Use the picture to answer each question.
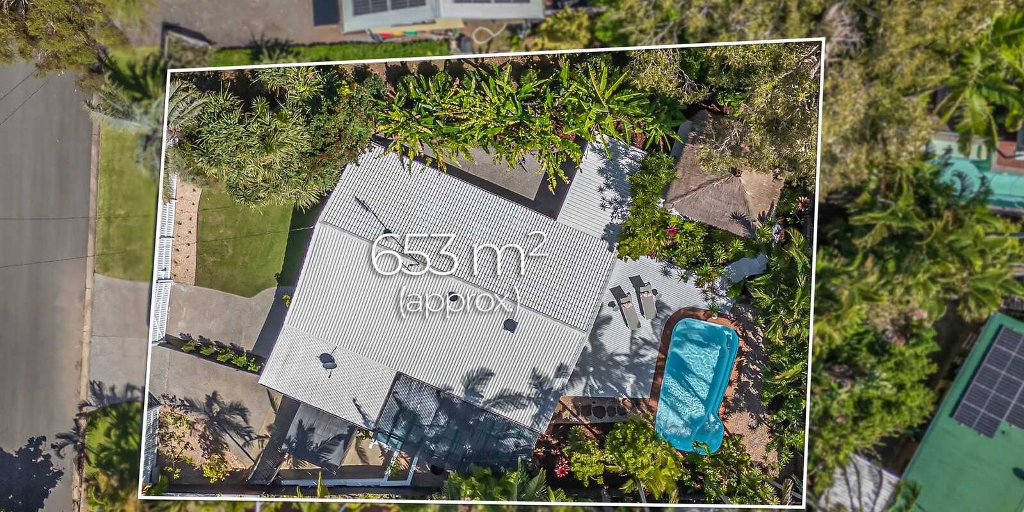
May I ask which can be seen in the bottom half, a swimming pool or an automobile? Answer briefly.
swimming pool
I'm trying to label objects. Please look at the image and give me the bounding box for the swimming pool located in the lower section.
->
[649,309,748,461]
